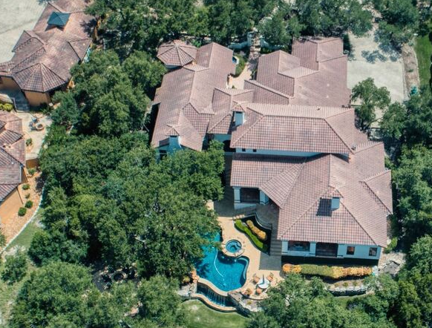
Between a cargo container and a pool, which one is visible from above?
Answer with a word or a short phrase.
pool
